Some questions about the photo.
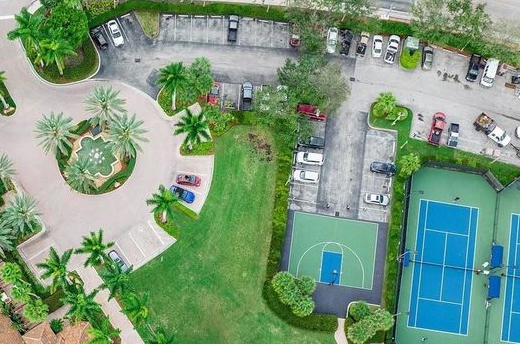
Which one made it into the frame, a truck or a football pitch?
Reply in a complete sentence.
Of the two, only a truck appears.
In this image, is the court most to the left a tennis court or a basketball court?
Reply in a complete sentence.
I'd identify the court most to the left as a basketball court.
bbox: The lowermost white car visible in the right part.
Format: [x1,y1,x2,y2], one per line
[363,193,390,207]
